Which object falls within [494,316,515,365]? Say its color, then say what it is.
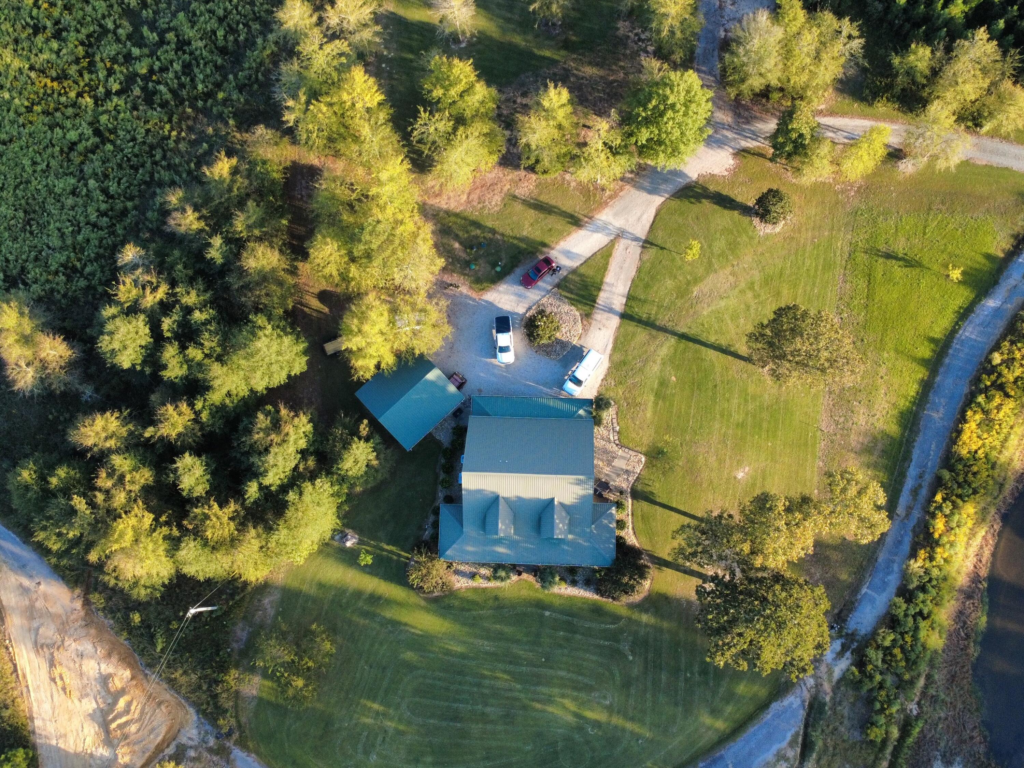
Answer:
white truck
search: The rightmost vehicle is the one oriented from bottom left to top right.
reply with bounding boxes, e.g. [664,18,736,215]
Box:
[562,346,605,397]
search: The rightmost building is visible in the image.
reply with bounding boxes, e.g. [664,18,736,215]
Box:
[438,394,617,567]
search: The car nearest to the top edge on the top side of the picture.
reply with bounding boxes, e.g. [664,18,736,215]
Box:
[521,254,556,291]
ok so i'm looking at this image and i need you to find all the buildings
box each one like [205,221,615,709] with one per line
[356,344,467,450]
[438,394,617,567]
